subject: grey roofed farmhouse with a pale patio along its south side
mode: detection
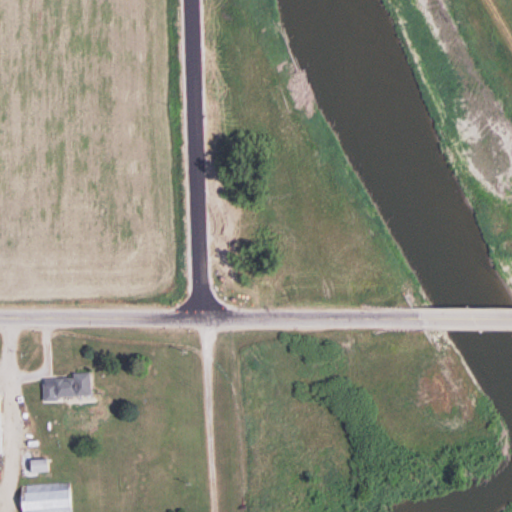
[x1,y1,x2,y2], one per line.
[42,372,98,409]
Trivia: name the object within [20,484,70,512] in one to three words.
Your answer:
barn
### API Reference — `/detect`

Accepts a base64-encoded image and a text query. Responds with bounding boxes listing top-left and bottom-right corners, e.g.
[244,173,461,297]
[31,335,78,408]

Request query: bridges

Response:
[418,306,512,334]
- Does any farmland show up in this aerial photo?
Yes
